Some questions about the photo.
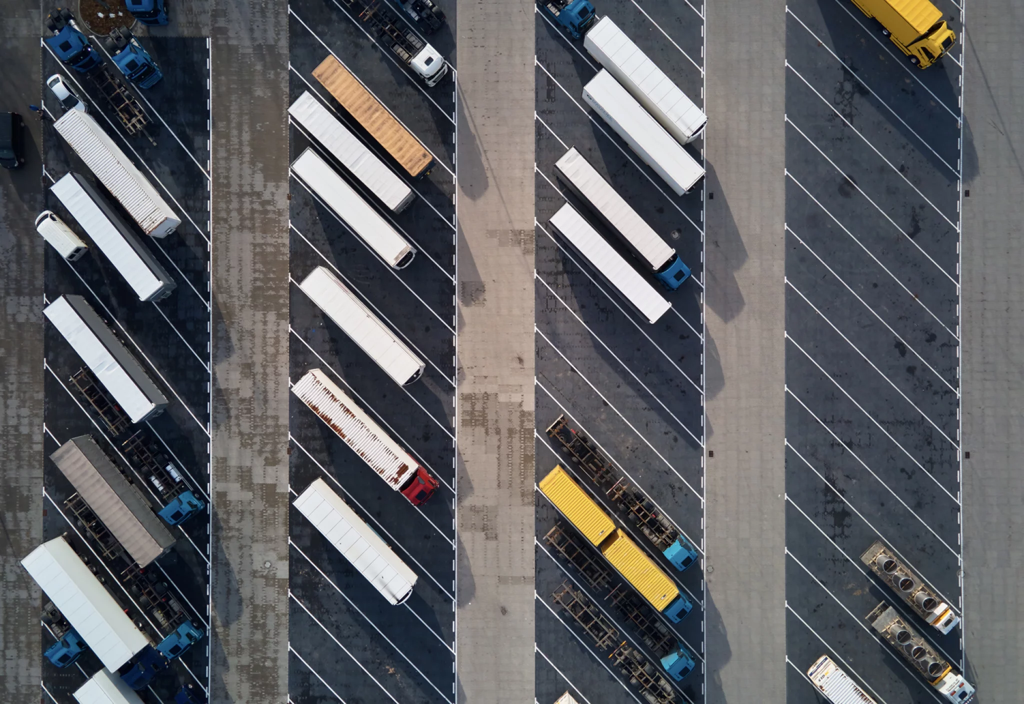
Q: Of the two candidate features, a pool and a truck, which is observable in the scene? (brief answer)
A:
truck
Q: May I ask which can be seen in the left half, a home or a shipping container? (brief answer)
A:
shipping container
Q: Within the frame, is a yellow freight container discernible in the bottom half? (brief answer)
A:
Yes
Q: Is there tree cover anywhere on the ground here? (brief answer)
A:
No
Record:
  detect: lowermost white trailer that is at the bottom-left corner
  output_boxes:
[72,666,150,704]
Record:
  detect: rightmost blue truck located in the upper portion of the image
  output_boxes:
[628,252,687,291]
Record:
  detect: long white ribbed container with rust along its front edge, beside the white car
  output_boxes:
[54,109,181,240]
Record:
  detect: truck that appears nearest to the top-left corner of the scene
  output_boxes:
[45,8,101,72]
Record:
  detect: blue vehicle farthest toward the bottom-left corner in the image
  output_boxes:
[46,601,92,662]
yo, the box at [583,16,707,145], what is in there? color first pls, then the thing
white trailer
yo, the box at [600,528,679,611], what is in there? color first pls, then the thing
yellow shipping container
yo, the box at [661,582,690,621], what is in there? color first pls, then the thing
blue truck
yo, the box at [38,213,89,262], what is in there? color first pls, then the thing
white van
